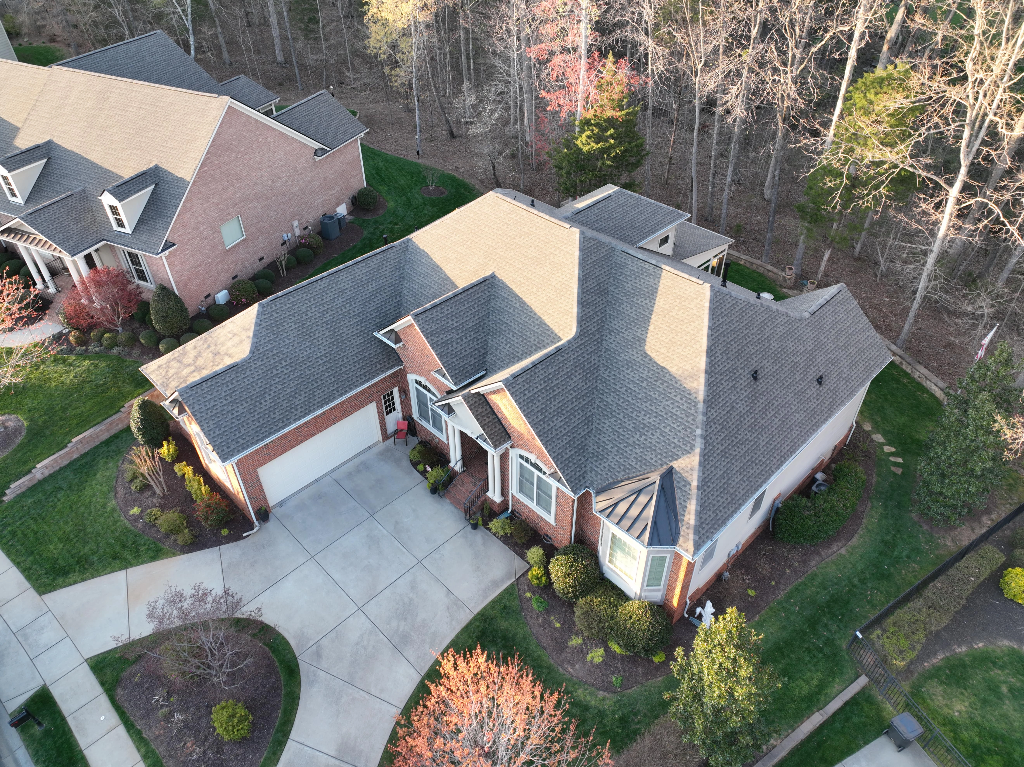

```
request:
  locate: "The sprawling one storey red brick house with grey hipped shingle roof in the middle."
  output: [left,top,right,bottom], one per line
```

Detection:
[138,173,894,621]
